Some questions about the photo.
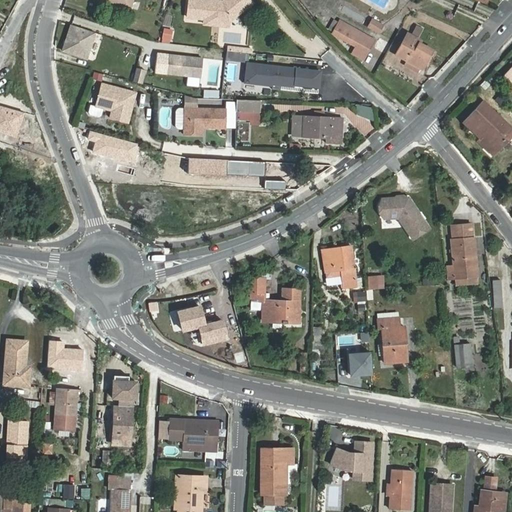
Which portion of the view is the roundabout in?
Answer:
left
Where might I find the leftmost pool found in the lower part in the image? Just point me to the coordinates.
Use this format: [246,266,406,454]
[162,446,180,458]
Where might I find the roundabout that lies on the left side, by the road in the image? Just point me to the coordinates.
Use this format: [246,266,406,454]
[68,230,144,307]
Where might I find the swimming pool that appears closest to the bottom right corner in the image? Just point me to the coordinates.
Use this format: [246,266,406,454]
[328,484,342,509]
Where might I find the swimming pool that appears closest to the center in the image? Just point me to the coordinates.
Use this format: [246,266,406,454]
[336,335,356,347]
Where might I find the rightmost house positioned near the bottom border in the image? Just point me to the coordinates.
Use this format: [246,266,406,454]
[474,476,509,512]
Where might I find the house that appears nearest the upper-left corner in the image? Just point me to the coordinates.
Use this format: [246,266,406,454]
[62,24,96,59]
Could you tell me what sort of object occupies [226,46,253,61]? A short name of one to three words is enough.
shed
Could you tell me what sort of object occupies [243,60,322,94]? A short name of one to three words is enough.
house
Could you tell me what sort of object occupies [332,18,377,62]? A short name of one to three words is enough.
house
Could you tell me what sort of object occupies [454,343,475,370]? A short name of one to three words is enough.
building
